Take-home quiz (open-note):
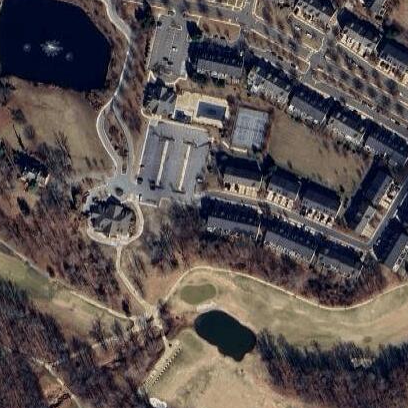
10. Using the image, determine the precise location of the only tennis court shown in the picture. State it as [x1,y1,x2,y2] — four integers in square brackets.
[230,106,268,151]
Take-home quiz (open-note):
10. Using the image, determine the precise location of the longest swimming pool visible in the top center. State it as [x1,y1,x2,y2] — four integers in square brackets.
[174,92,229,128]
